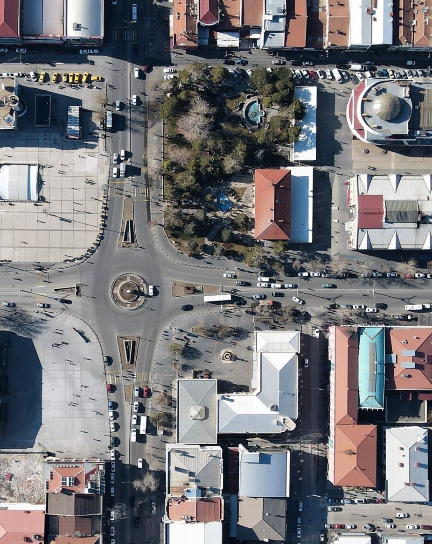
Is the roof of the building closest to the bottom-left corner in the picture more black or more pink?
pink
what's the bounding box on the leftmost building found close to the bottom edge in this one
[0,501,46,544]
